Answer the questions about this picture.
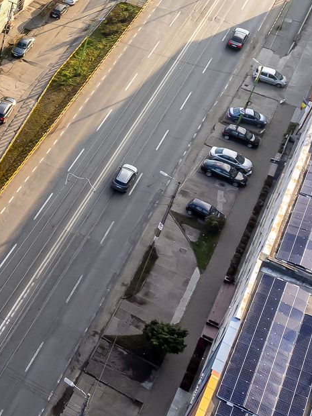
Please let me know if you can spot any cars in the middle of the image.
Yes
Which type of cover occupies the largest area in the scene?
paved ground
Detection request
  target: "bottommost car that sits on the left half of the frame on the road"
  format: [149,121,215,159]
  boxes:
[109,163,140,196]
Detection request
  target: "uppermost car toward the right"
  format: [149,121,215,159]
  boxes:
[227,28,249,50]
